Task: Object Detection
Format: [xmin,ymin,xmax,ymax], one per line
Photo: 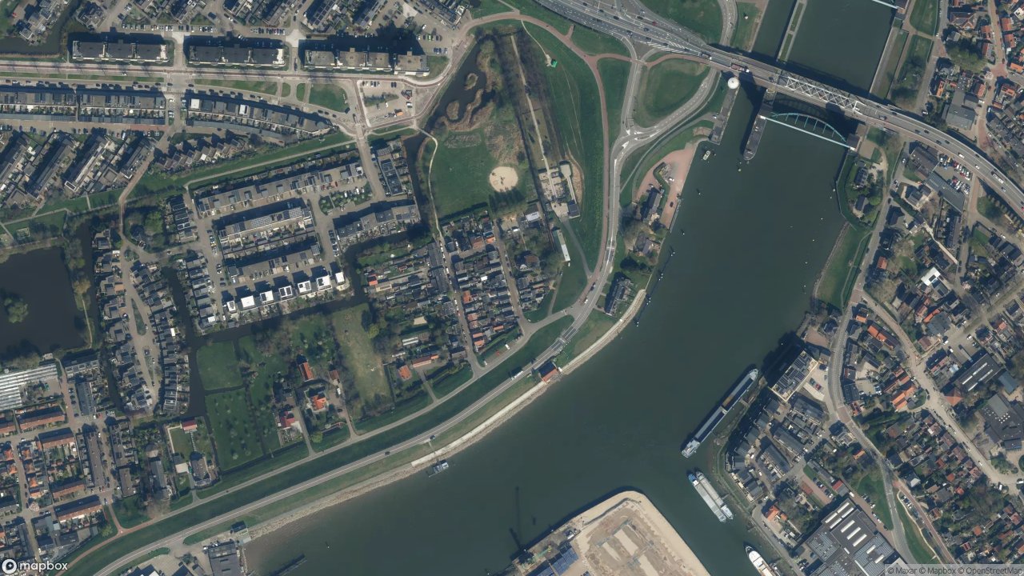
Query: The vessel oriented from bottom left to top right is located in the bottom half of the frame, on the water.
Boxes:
[683,370,756,456]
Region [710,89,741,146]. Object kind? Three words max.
pier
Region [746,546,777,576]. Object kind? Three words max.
ship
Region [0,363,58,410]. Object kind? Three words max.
greenhouse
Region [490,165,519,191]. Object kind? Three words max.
playground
